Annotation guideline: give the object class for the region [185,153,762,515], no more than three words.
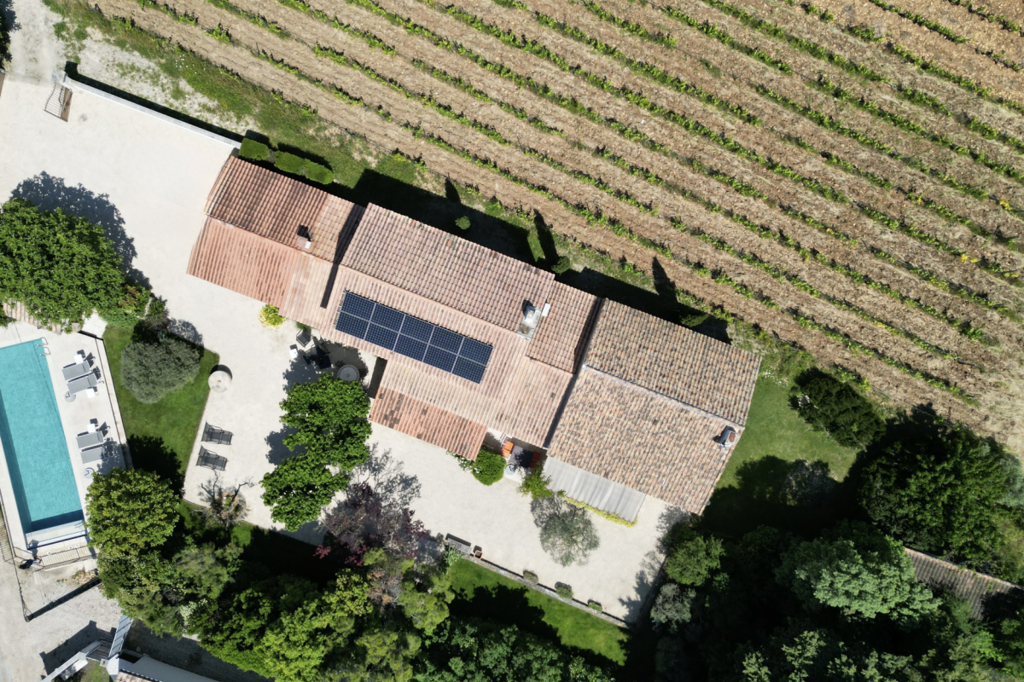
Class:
house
